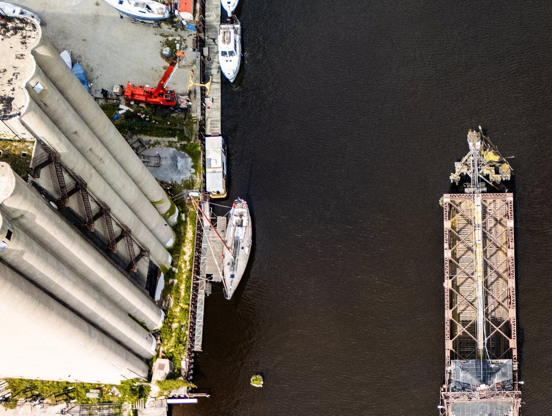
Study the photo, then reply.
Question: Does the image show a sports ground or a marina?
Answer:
marina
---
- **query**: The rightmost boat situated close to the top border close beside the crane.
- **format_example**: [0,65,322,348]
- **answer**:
[218,9,239,82]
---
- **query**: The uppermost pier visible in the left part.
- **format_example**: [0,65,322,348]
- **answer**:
[206,0,222,126]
